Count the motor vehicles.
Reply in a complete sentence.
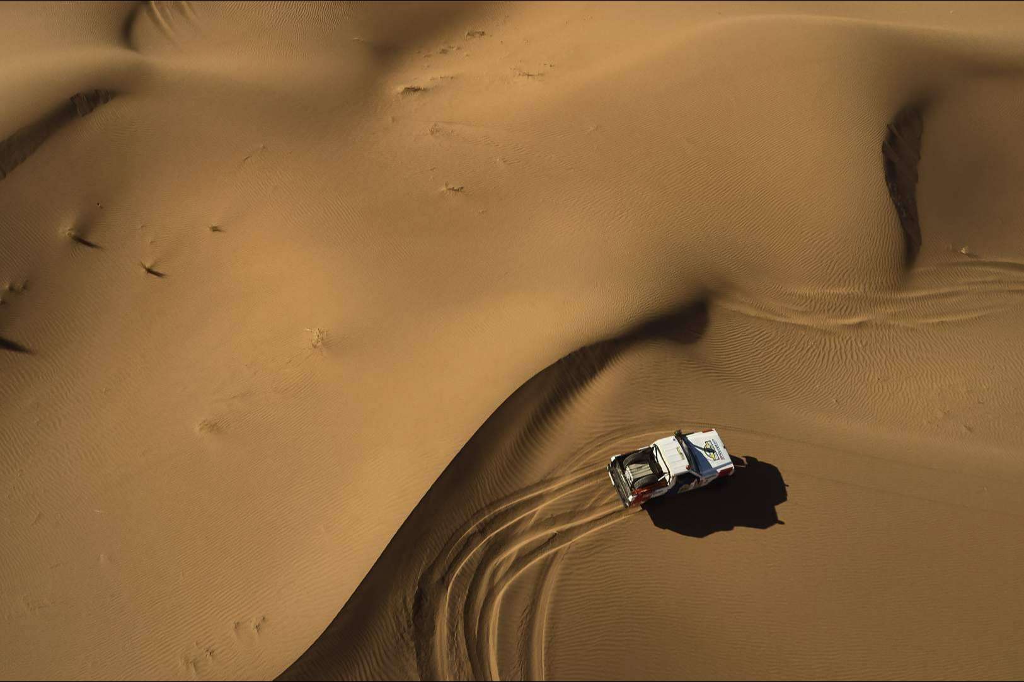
Just 1 motor vehicle appears in this view.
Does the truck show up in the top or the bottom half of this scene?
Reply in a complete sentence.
The bottom half of the photo is where the truck is.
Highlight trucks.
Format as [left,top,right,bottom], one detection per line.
[603,430,732,506]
